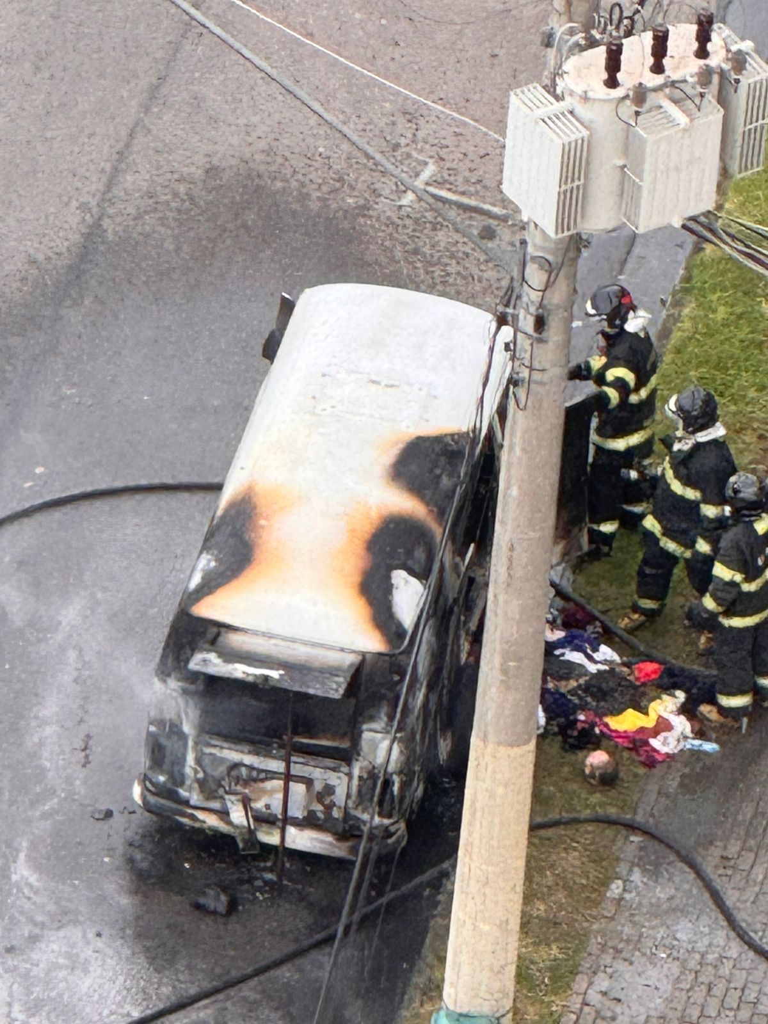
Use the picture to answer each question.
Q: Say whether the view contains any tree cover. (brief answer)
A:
No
